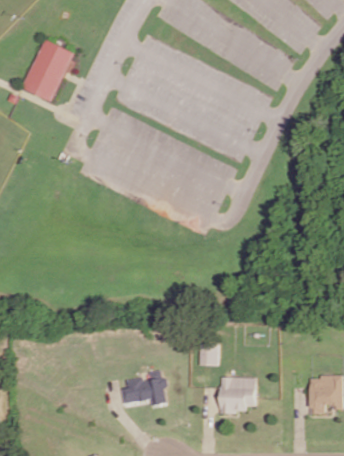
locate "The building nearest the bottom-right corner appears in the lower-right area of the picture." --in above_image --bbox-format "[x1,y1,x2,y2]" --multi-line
[309,376,344,417]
